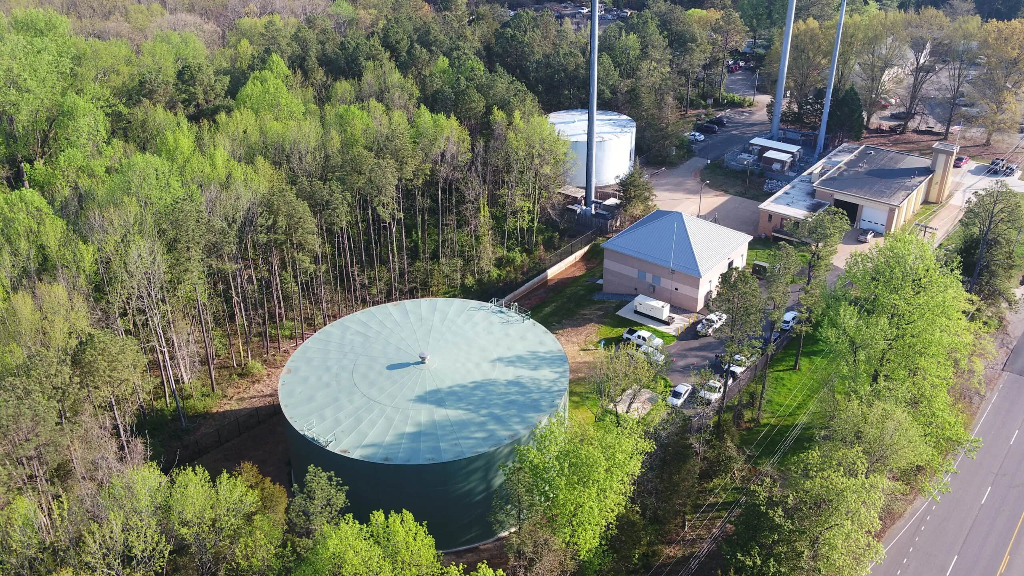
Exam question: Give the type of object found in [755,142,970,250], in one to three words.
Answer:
building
